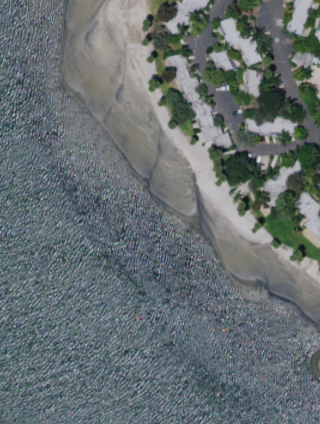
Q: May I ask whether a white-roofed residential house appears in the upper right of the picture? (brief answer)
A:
Yes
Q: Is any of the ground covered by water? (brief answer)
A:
Yes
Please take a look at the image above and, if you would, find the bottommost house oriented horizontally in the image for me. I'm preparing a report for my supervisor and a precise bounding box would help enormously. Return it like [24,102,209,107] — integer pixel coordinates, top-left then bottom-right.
[243,116,298,138]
